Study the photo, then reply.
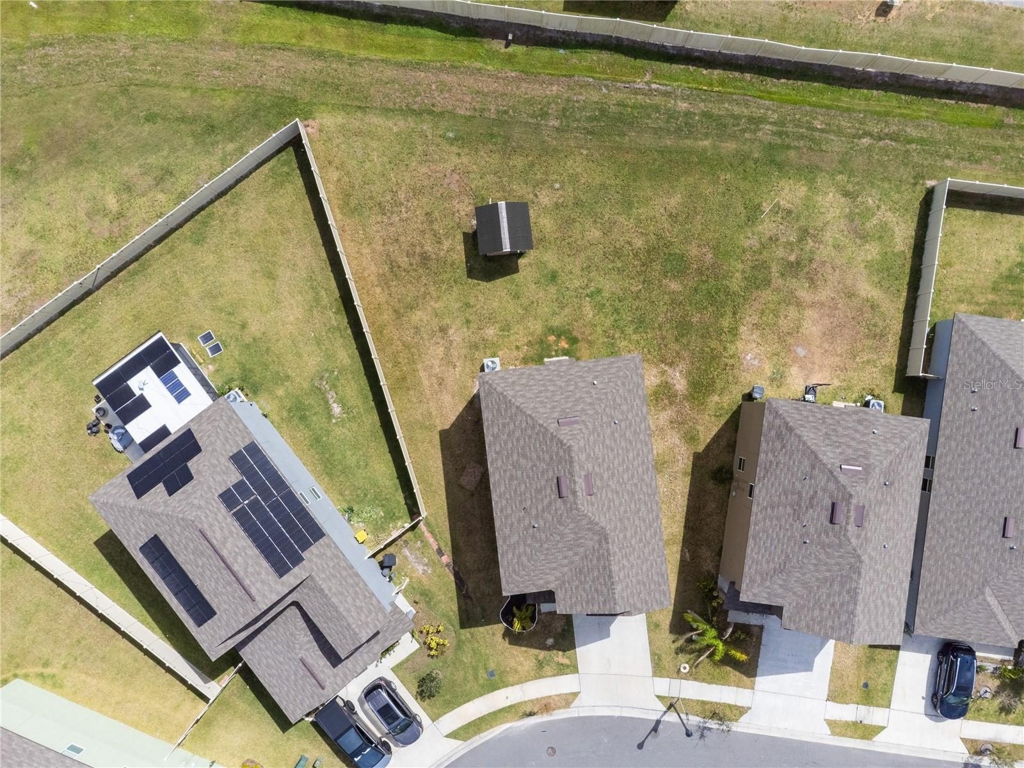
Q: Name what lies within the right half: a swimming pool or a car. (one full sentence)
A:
There is a car within the right half.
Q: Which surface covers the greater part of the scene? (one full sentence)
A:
The bulk of the photo consists of grass.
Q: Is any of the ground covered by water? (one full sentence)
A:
No, there is no water in the image.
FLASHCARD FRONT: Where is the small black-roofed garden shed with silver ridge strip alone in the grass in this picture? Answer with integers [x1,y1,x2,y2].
[475,196,533,259]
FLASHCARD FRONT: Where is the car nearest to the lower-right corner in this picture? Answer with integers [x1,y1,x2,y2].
[930,643,977,720]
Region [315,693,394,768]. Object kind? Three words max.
truck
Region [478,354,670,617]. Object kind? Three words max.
house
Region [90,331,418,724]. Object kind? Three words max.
house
